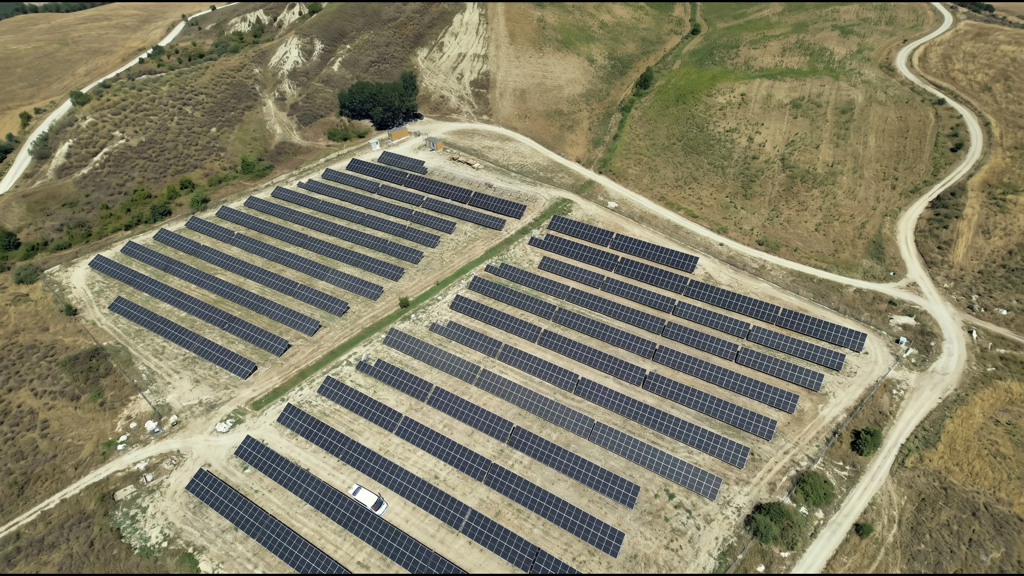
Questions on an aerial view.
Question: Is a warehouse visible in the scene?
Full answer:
No, there's no warehouse here.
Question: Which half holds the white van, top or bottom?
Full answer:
The white van is in the bottom half of the image.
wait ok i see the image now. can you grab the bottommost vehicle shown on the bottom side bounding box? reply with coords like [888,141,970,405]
[347,480,390,514]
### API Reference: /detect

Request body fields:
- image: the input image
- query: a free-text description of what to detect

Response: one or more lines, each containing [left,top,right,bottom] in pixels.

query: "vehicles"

[413,111,425,117]
[347,480,390,514]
